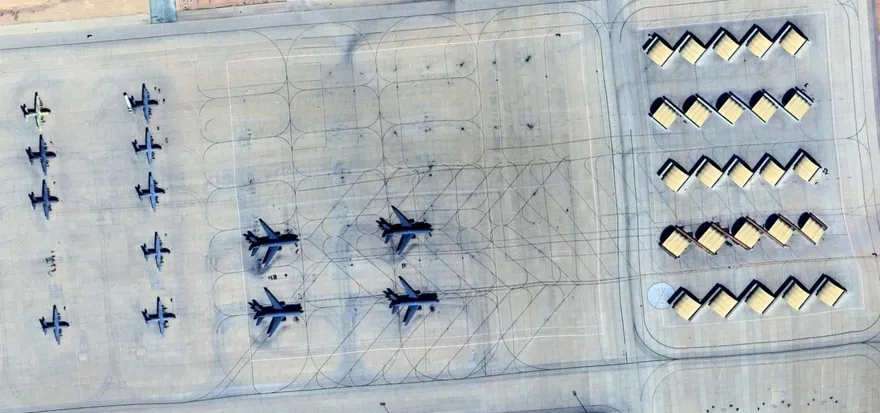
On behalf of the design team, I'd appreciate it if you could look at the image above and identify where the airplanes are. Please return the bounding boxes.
[139,178,164,211]
[25,97,50,131]
[44,311,69,344]
[254,291,303,337]
[389,282,439,327]
[382,210,432,256]
[148,303,173,337]
[133,90,157,124]
[33,185,58,219]
[249,219,299,265]
[136,132,160,166]
[144,238,169,271]
[30,142,55,175]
